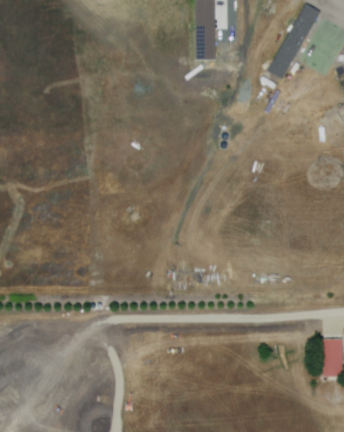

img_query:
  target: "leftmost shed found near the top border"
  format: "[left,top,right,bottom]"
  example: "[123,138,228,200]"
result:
[197,0,218,59]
